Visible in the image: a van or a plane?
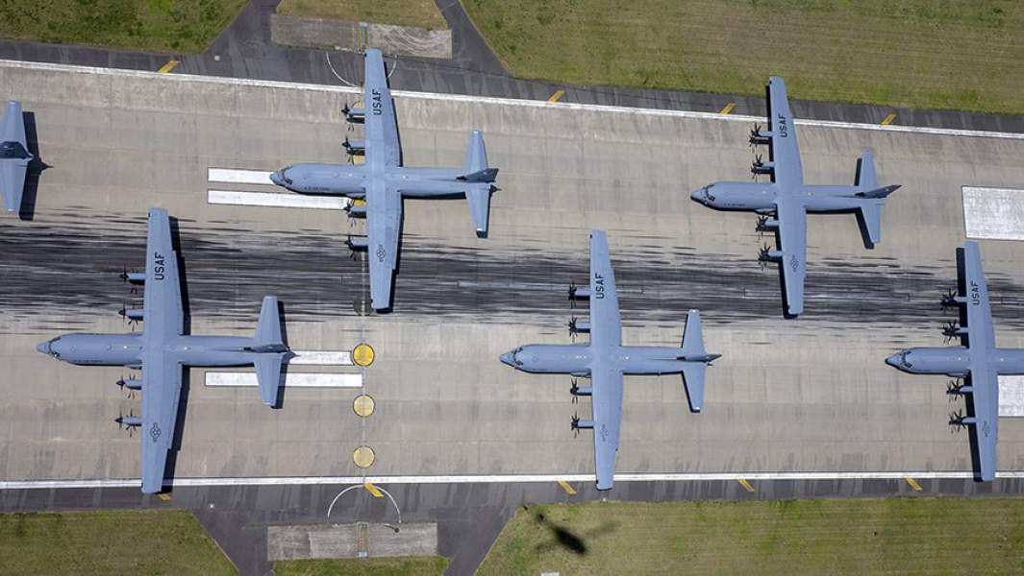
plane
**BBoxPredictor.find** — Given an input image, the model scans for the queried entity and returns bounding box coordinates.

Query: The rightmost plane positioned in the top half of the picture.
[690,76,899,313]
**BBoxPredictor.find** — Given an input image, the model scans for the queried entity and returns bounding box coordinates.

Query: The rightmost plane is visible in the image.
[887,243,1024,480]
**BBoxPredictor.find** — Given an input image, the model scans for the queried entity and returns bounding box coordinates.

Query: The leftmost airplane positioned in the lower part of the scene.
[38,209,291,492]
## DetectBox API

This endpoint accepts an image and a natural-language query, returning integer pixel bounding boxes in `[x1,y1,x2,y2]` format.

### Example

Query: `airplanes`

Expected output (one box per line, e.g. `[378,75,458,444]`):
[497,230,721,489]
[0,101,33,211]
[269,49,499,308]
[38,209,291,492]
[690,76,899,313]
[887,243,1024,480]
